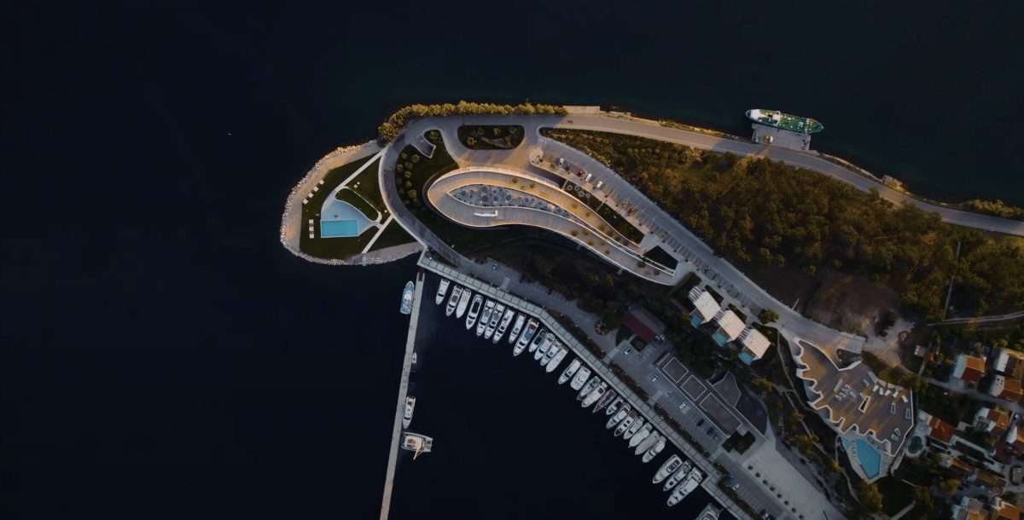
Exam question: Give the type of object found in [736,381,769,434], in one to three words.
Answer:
building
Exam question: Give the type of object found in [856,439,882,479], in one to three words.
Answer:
swimming pool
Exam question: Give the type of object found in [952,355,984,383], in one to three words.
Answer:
house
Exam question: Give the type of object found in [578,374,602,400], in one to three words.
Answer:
boat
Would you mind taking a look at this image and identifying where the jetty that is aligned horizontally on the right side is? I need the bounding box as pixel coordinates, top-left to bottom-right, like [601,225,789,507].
[750,125,811,151]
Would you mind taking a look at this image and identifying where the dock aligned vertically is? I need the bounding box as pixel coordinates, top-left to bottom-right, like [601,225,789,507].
[379,272,424,520]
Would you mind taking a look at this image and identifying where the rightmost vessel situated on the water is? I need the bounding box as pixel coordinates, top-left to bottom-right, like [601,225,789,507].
[743,107,824,133]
